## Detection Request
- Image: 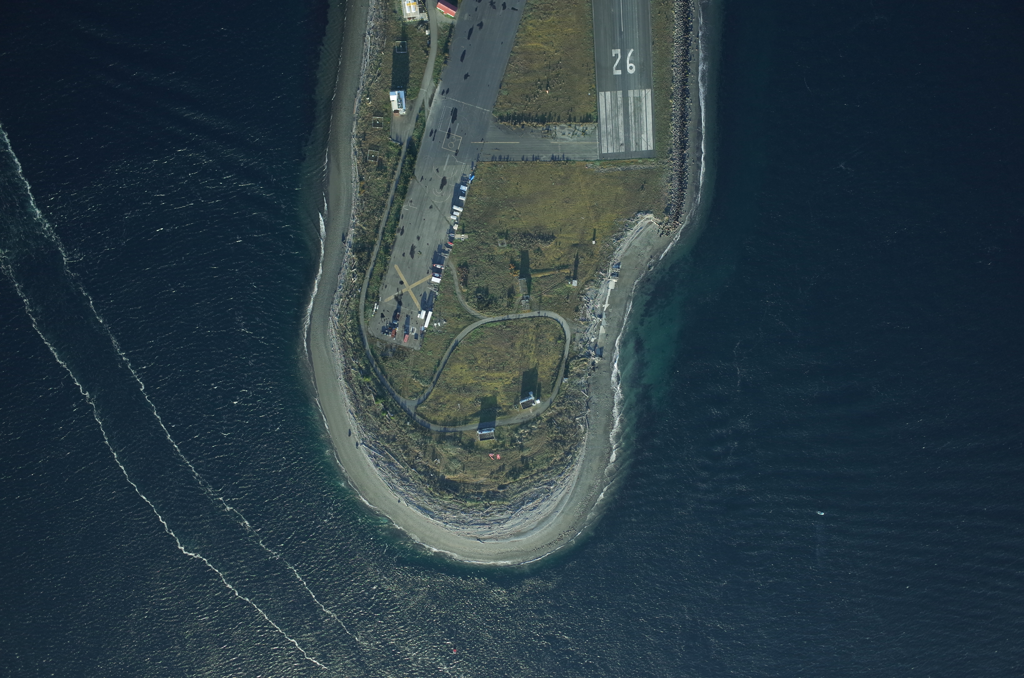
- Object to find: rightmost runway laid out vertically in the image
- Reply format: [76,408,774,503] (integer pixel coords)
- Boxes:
[592,0,656,160]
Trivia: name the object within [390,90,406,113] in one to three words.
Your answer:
building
